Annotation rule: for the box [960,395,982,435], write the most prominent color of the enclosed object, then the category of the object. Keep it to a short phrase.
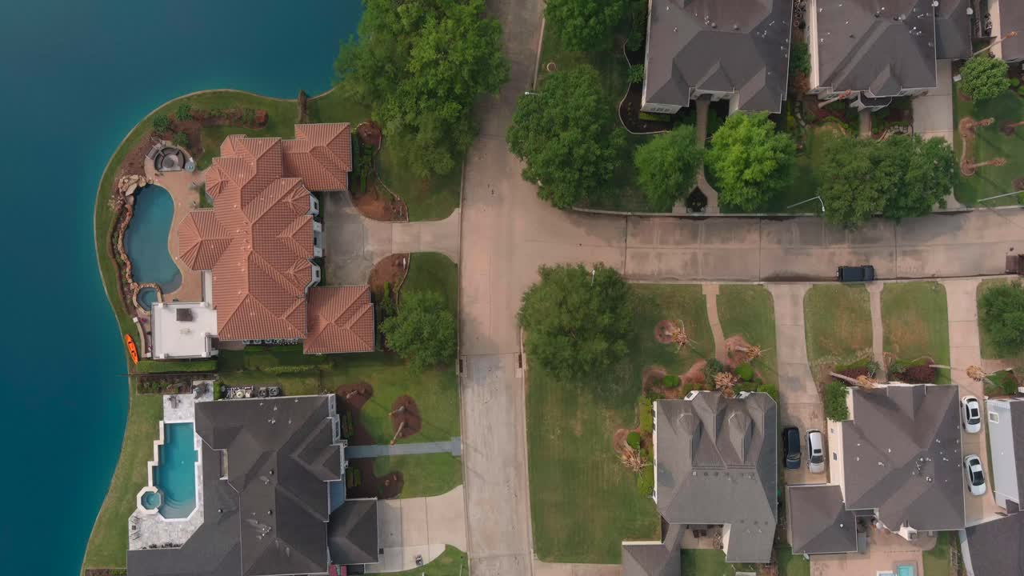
white car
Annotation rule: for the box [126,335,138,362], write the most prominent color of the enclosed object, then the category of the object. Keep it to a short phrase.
orange boat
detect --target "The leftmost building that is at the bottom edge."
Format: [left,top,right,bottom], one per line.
[127,391,380,576]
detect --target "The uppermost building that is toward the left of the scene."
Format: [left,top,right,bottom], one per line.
[152,123,375,357]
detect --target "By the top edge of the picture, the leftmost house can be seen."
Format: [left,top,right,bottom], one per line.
[642,0,794,120]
